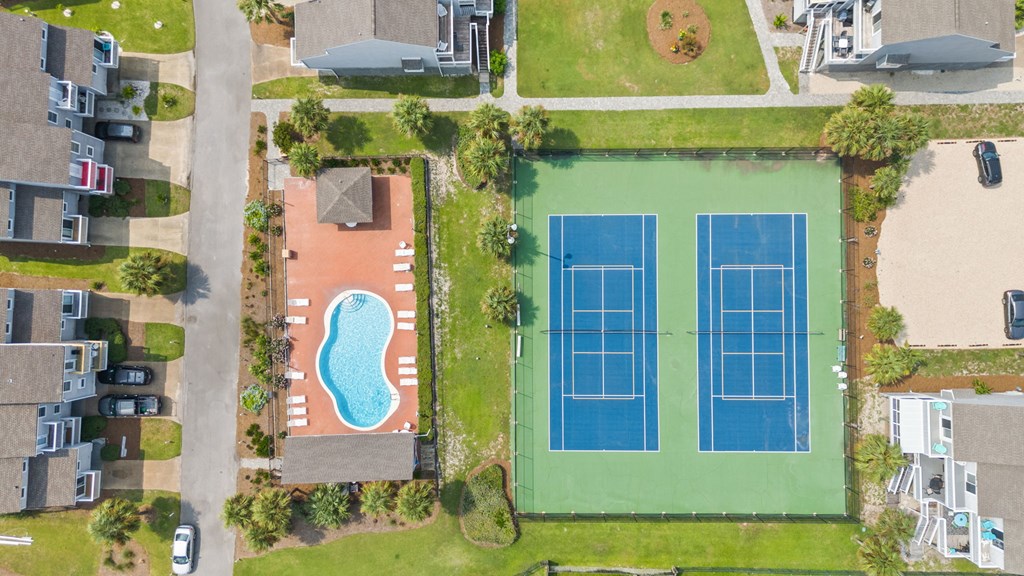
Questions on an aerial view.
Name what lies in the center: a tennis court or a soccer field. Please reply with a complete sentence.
You can see a tennis court in the center.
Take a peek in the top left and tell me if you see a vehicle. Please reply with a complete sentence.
Yes, I can see a vehicle in the top left.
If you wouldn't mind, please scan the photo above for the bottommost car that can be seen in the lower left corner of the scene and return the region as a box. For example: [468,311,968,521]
[167,525,194,576]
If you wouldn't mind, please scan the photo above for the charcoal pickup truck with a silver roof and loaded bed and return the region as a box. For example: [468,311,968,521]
[98,394,161,419]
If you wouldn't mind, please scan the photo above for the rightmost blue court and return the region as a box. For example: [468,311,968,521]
[697,212,810,453]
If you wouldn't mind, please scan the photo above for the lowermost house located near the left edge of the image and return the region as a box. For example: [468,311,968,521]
[0,439,103,519]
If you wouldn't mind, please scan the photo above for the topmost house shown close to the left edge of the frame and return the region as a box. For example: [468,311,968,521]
[0,14,119,99]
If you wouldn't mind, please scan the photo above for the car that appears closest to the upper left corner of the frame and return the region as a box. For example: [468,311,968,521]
[98,117,146,140]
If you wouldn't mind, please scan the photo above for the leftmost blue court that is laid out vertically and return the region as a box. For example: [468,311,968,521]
[548,214,660,452]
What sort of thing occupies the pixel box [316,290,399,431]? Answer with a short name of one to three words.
swimming pool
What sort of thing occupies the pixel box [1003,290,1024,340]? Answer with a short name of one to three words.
car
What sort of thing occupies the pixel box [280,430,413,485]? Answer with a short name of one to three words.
building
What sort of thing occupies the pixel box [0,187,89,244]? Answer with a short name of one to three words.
house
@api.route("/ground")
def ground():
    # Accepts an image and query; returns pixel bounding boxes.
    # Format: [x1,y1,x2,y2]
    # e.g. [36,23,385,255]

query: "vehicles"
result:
[98,394,161,419]
[98,364,151,388]
[167,525,194,576]
[98,117,146,140]
[974,141,1005,187]
[1003,290,1024,340]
